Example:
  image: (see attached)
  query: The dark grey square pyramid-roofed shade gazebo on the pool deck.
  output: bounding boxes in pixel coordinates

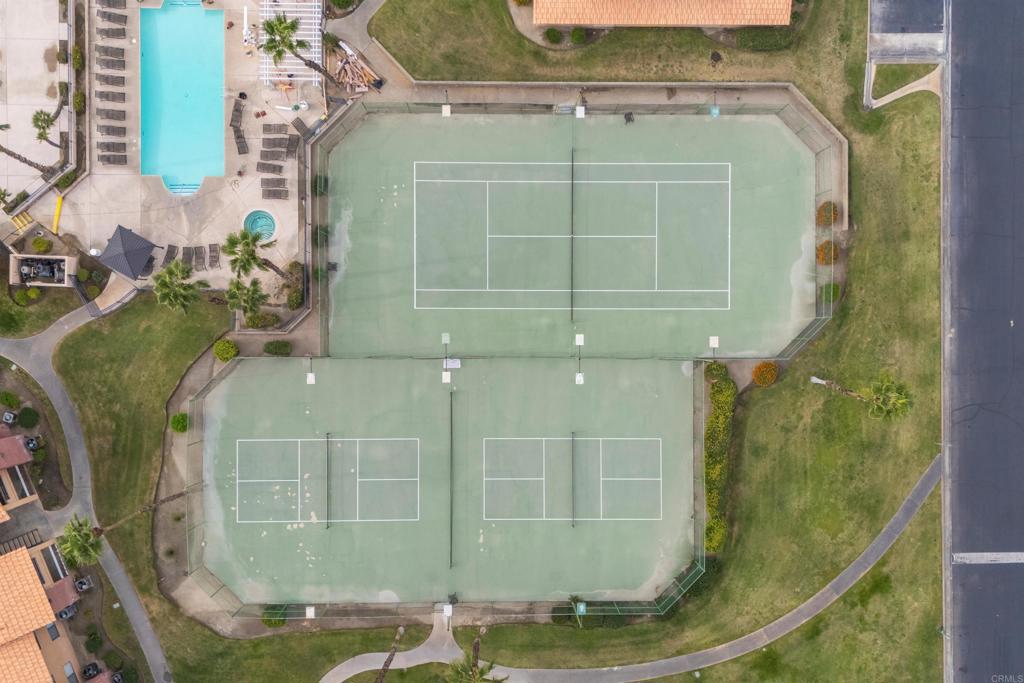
[98,224,176,285]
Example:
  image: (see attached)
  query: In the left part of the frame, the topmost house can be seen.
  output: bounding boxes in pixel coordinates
[0,421,56,524]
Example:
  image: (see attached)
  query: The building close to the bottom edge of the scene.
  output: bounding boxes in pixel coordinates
[0,538,129,683]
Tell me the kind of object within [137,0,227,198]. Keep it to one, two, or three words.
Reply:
swimming pool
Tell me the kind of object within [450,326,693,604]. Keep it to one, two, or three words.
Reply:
sports court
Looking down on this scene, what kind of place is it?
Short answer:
sports ground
